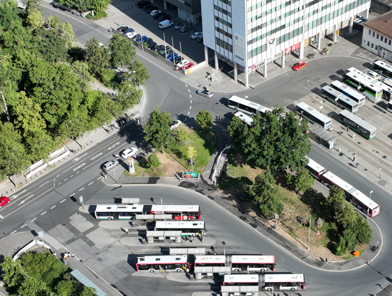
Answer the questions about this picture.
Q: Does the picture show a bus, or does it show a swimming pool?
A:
bus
